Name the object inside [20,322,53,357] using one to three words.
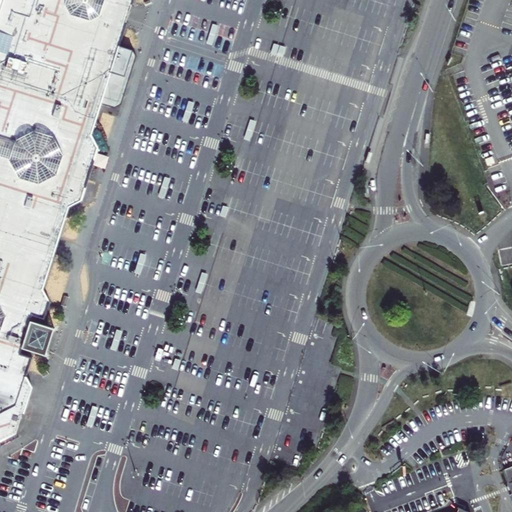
building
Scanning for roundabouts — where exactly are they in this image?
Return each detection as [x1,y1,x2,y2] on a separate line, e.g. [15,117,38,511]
[346,221,496,371]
